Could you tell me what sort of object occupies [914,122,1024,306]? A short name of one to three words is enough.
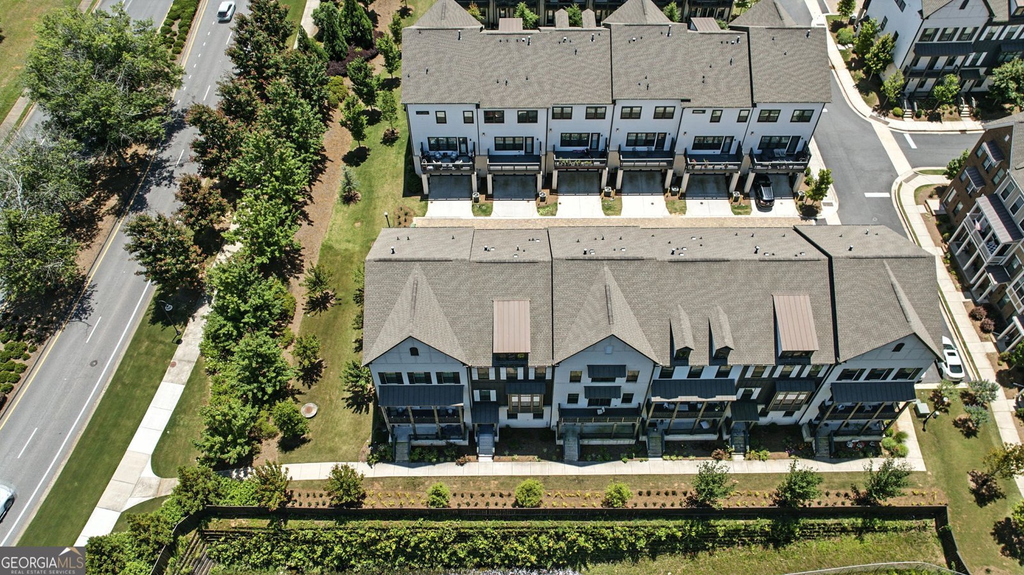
house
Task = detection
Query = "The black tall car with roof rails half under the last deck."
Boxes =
[751,176,775,208]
